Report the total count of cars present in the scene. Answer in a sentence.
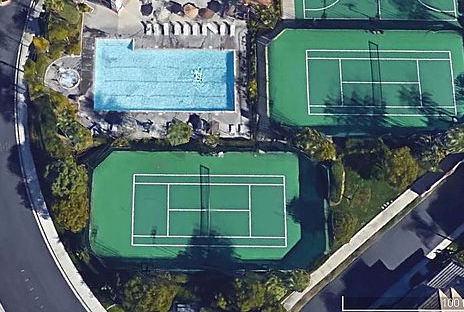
I count no cars.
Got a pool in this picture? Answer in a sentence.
Yes, a pool can be made out from above.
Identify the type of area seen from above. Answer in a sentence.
The area seen from above is a sports ground.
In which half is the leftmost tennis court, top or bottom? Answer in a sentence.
The leftmost tennis court is in the bottom half of the image.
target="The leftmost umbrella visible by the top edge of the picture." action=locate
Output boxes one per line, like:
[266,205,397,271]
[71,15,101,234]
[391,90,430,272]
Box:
[155,6,172,20]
